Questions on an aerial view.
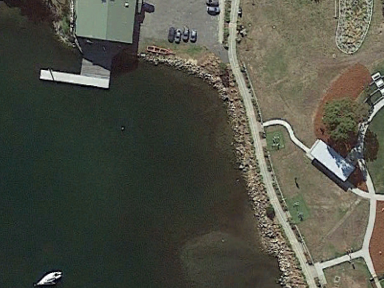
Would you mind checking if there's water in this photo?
Yes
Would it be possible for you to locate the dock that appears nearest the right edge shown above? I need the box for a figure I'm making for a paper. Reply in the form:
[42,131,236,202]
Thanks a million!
[81,49,112,79]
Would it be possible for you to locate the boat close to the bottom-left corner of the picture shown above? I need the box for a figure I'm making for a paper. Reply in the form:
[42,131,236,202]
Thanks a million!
[36,270,61,285]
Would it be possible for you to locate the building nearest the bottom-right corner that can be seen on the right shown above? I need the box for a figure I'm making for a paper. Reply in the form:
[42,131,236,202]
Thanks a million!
[309,140,355,182]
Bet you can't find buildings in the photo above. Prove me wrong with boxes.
[76,0,136,42]
[309,140,355,182]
